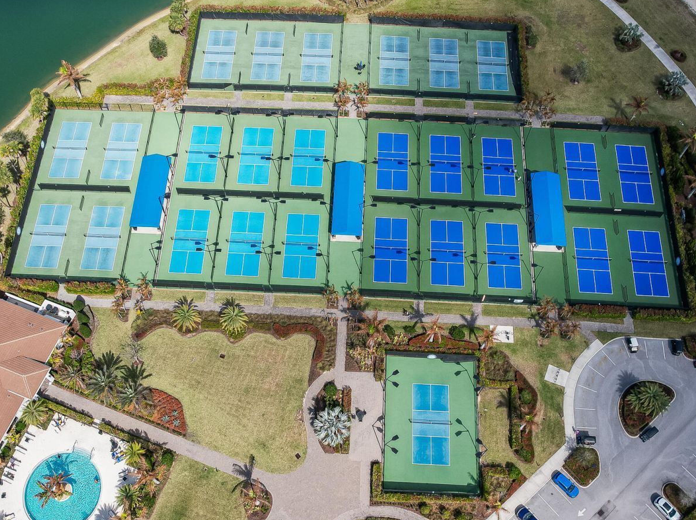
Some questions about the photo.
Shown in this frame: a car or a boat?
car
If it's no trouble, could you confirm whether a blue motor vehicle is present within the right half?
Yes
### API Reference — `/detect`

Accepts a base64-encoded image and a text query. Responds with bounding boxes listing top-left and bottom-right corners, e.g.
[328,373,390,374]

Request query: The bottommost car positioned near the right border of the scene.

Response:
[652,494,682,520]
